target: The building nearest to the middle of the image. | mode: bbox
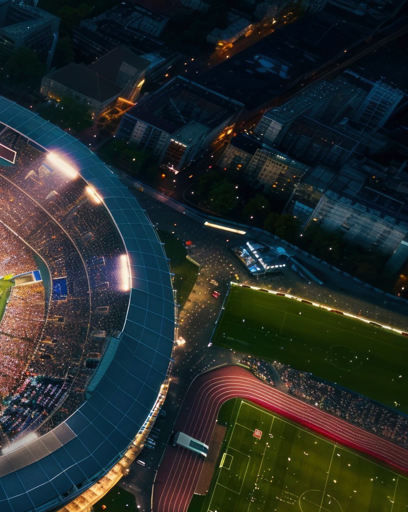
[233,233,290,272]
